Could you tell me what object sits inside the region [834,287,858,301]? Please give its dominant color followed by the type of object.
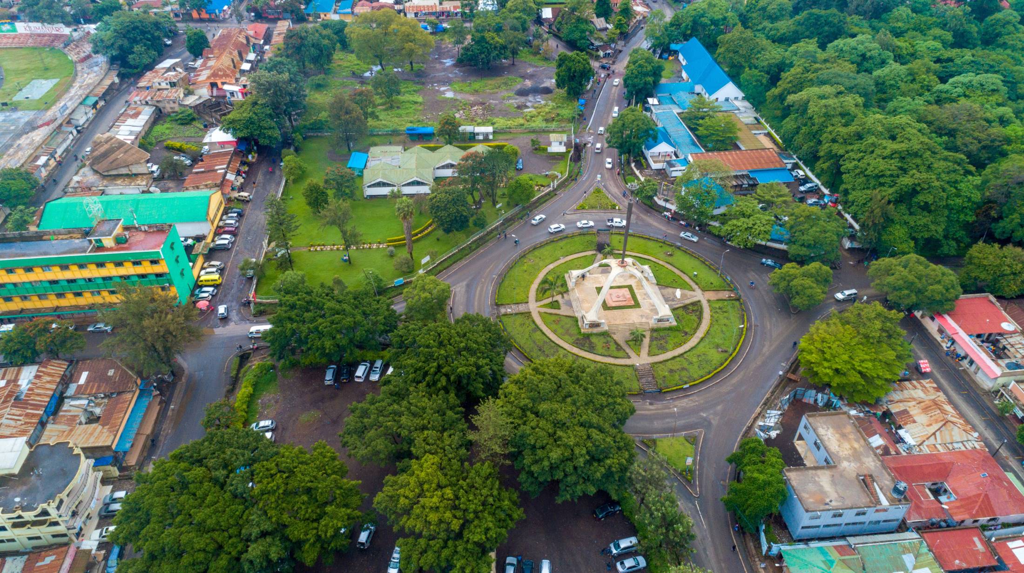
white car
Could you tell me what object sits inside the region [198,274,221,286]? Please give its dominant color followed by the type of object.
yellow vehicle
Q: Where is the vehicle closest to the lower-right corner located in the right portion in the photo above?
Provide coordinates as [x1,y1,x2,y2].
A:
[913,358,935,375]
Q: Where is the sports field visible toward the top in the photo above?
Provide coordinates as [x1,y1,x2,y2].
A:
[0,45,74,110]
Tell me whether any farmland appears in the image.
No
